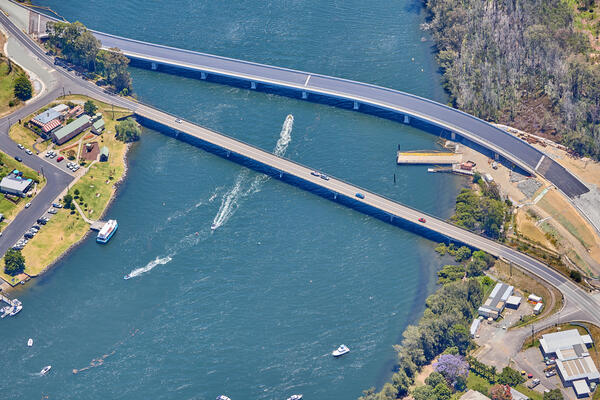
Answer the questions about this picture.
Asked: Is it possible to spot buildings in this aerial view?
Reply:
Yes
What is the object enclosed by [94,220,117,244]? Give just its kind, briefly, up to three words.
ship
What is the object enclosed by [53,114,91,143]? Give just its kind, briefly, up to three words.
building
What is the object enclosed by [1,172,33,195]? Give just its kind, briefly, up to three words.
building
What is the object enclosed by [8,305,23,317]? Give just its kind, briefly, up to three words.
boat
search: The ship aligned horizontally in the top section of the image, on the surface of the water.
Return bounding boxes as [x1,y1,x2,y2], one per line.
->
[399,152,462,165]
